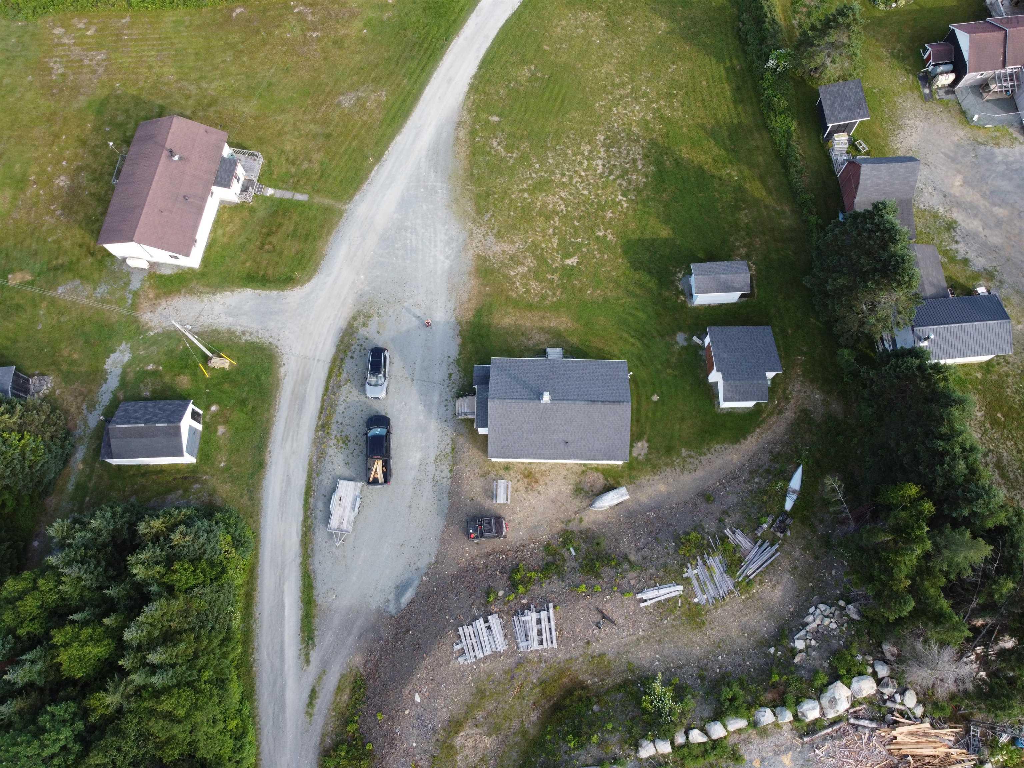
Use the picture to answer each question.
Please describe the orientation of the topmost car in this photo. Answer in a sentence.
The topmost car has been laid out from top to bottom relative to the frame.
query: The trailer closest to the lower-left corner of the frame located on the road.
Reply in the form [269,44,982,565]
[327,479,362,550]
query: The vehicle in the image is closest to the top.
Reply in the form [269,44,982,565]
[363,347,389,401]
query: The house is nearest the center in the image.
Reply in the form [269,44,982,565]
[473,357,633,465]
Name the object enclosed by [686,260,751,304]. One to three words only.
shed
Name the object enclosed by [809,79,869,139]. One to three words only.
shed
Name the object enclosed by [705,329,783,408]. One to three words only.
building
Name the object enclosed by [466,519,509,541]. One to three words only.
vehicle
